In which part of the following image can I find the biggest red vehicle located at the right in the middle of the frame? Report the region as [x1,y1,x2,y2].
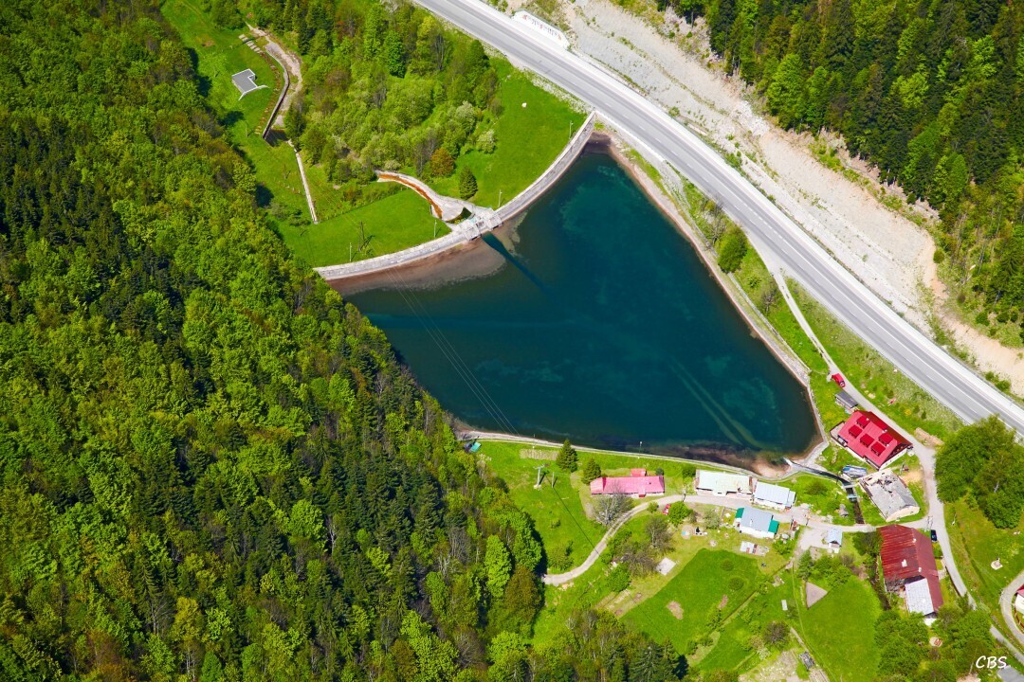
[833,370,847,386]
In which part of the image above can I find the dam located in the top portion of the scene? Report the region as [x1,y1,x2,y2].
[317,117,596,284]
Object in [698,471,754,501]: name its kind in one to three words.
house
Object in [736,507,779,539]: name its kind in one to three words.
house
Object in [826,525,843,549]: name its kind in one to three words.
shed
